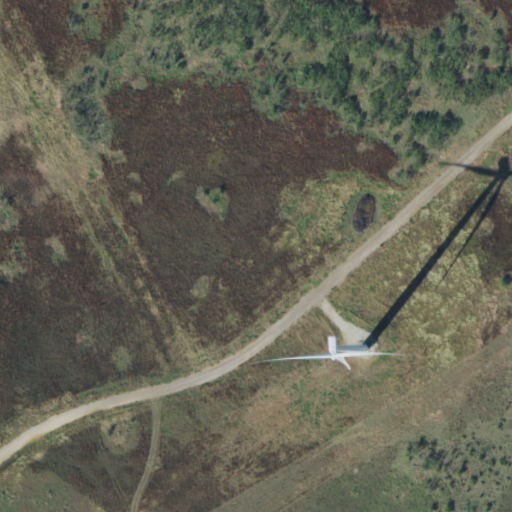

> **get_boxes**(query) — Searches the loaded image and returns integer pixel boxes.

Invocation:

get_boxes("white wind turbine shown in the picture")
[254,335,402,368]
